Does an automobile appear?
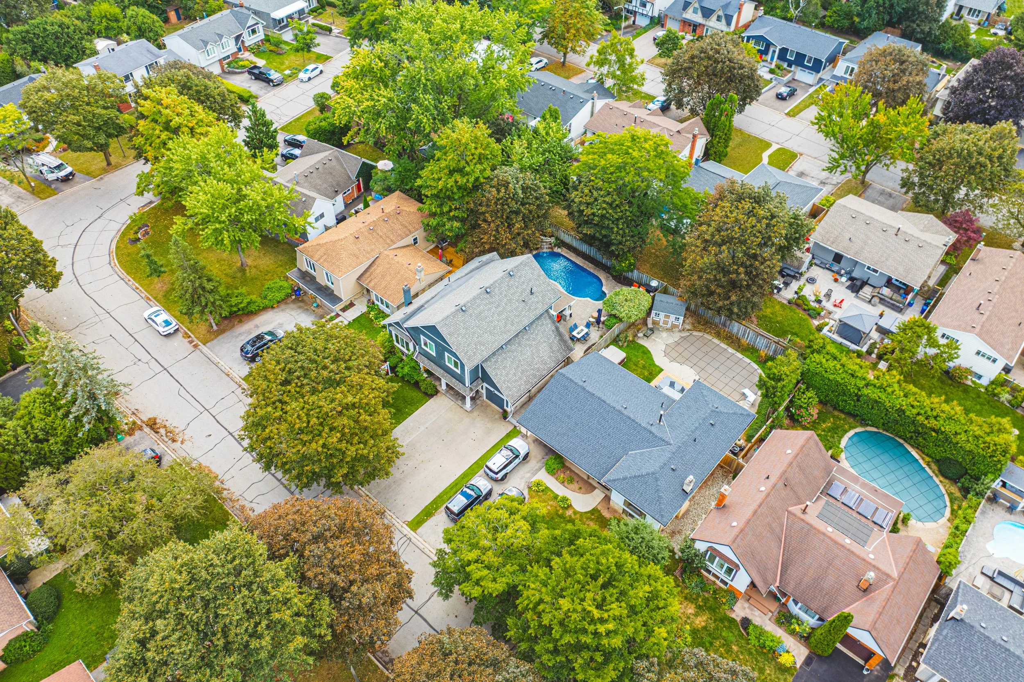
Yes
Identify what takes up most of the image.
trees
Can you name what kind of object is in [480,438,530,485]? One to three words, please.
car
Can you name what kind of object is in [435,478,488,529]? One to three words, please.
car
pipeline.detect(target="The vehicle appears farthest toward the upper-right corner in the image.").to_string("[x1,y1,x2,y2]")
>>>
[776,85,800,99]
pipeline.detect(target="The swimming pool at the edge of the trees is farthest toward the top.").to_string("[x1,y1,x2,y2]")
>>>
[529,250,604,299]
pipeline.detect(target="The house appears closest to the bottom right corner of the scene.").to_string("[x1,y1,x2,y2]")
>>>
[911,580,1024,682]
